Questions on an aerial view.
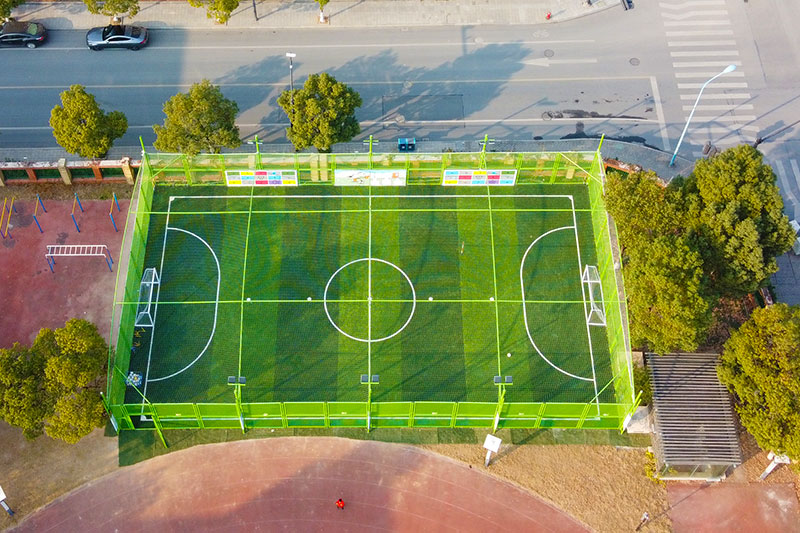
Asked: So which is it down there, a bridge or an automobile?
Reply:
automobile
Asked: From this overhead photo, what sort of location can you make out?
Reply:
sports ground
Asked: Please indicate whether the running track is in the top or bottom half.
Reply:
bottom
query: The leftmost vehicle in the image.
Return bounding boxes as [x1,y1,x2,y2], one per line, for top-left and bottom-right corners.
[0,21,48,48]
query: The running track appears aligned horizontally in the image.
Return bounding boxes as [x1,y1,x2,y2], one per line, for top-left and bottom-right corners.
[0,434,596,533]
